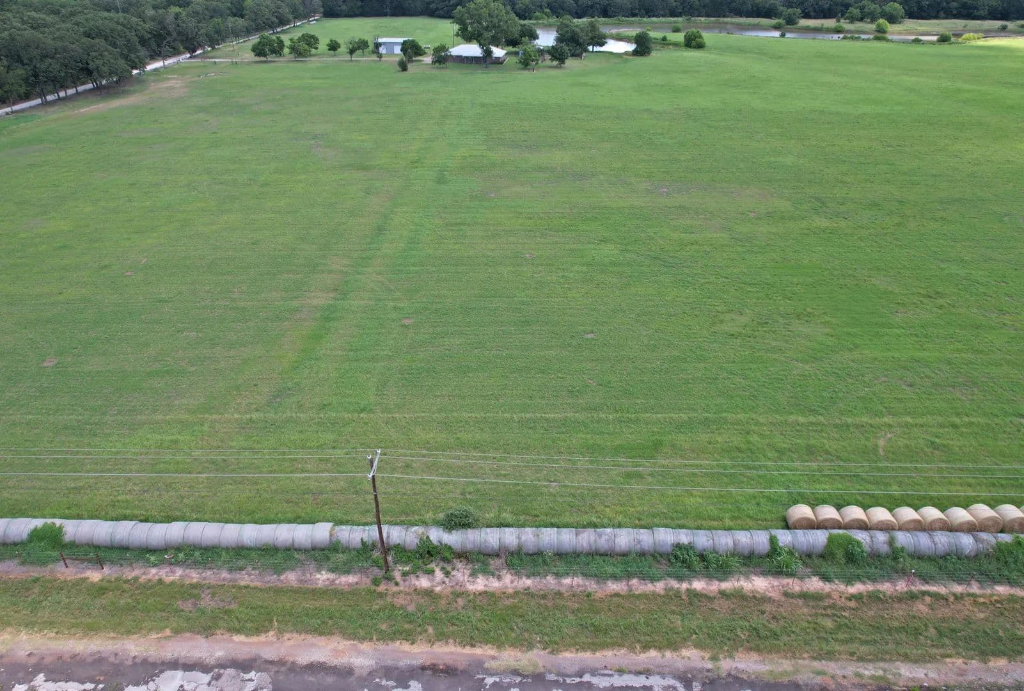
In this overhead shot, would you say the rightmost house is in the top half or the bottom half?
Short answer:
top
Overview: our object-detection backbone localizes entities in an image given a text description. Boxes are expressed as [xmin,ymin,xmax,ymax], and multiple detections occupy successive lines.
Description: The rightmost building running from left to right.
[449,43,506,67]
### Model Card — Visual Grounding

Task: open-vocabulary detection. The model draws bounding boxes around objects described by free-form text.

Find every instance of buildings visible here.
[377,39,412,54]
[449,43,506,67]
